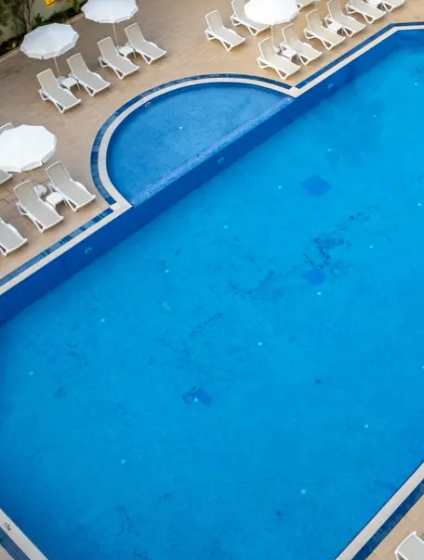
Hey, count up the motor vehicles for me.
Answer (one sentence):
There are no motor vehicles in this view.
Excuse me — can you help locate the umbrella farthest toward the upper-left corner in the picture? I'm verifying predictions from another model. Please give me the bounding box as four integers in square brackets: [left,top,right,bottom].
[19,20,81,83]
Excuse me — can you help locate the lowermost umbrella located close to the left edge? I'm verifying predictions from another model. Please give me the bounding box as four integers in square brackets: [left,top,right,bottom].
[0,124,62,195]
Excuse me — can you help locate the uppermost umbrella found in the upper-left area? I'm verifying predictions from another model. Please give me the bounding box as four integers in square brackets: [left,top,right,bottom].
[77,0,138,51]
